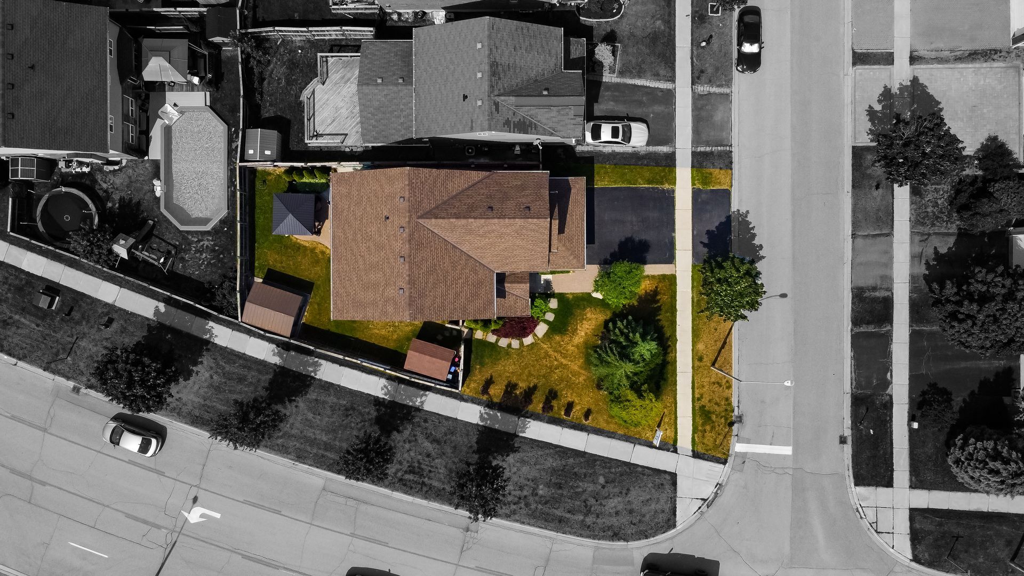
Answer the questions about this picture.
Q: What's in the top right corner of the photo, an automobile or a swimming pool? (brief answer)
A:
automobile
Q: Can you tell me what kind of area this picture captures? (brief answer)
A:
residential area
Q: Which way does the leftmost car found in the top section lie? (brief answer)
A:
horizontally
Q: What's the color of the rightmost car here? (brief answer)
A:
black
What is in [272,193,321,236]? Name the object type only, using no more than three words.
gazebo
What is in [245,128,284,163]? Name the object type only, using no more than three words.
shed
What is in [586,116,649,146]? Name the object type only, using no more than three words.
car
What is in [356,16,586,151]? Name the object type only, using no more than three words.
house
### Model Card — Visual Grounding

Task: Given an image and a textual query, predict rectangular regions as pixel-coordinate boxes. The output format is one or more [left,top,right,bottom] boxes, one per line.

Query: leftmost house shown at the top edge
[0,0,155,168]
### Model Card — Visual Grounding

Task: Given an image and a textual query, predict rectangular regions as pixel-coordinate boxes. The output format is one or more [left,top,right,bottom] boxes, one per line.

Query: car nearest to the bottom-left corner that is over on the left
[103,422,165,459]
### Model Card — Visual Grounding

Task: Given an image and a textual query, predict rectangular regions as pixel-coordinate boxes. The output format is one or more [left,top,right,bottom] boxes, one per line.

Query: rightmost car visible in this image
[737,5,769,73]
